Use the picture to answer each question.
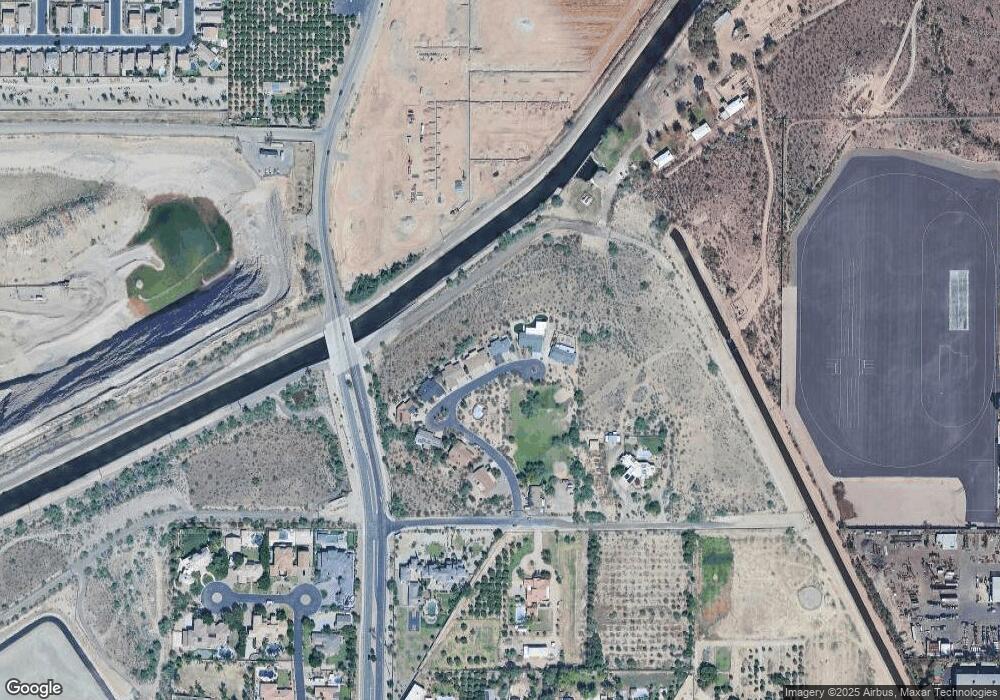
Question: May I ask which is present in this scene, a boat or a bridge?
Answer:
bridge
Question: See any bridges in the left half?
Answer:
Yes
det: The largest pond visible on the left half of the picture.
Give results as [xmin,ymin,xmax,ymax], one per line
[127,196,232,313]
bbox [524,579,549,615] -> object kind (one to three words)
house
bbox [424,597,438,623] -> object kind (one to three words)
swimming pool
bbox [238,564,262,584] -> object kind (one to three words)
house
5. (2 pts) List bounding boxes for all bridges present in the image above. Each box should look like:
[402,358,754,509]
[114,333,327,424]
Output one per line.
[325,316,362,377]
